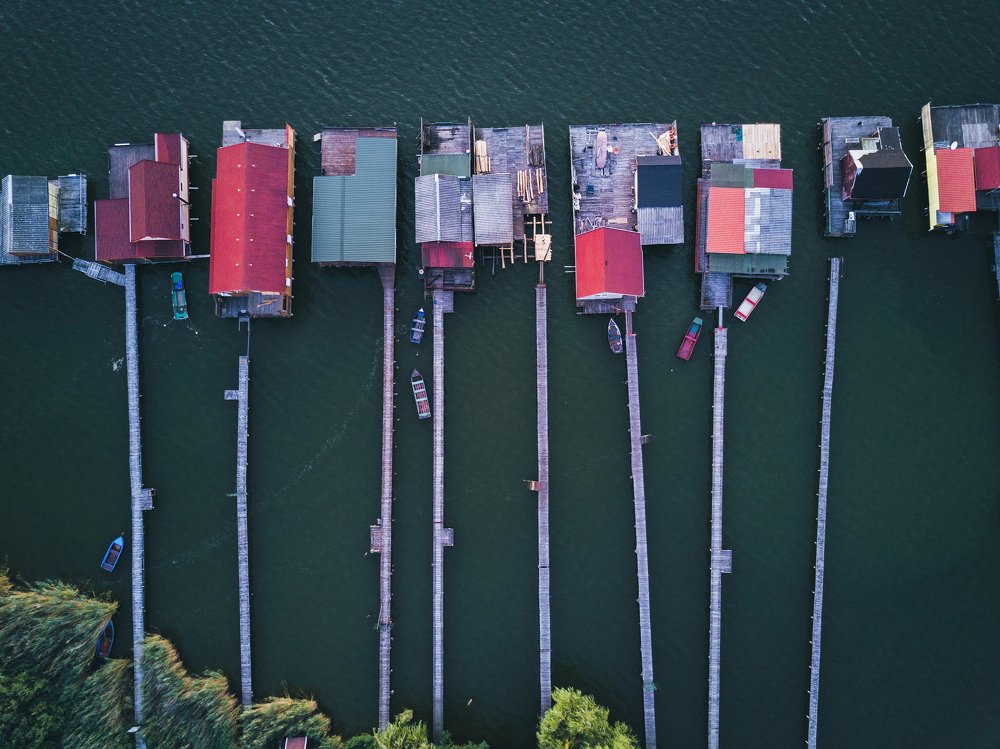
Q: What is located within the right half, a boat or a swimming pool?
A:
boat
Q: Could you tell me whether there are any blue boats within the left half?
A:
Yes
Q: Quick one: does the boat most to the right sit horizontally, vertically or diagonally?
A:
diagonally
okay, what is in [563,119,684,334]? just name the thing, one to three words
house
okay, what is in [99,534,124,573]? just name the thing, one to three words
boat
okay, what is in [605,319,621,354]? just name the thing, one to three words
boat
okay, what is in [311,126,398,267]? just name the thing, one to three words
house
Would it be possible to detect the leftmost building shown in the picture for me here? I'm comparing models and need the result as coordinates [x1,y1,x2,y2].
[0,172,91,264]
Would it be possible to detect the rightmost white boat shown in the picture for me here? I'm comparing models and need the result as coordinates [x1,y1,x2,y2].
[733,281,768,323]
